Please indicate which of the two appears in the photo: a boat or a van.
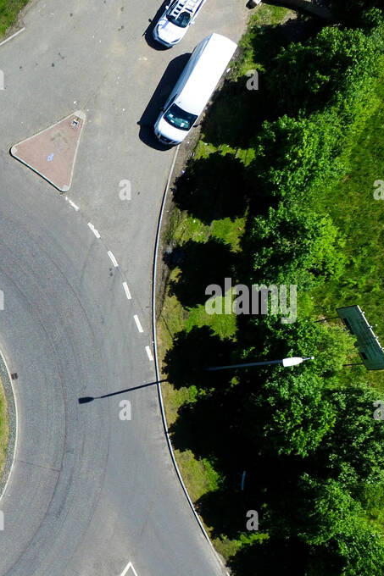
van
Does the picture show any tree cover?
Yes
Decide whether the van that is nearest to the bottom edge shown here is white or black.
white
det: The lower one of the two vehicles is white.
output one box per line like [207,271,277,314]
[155,36,236,146]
